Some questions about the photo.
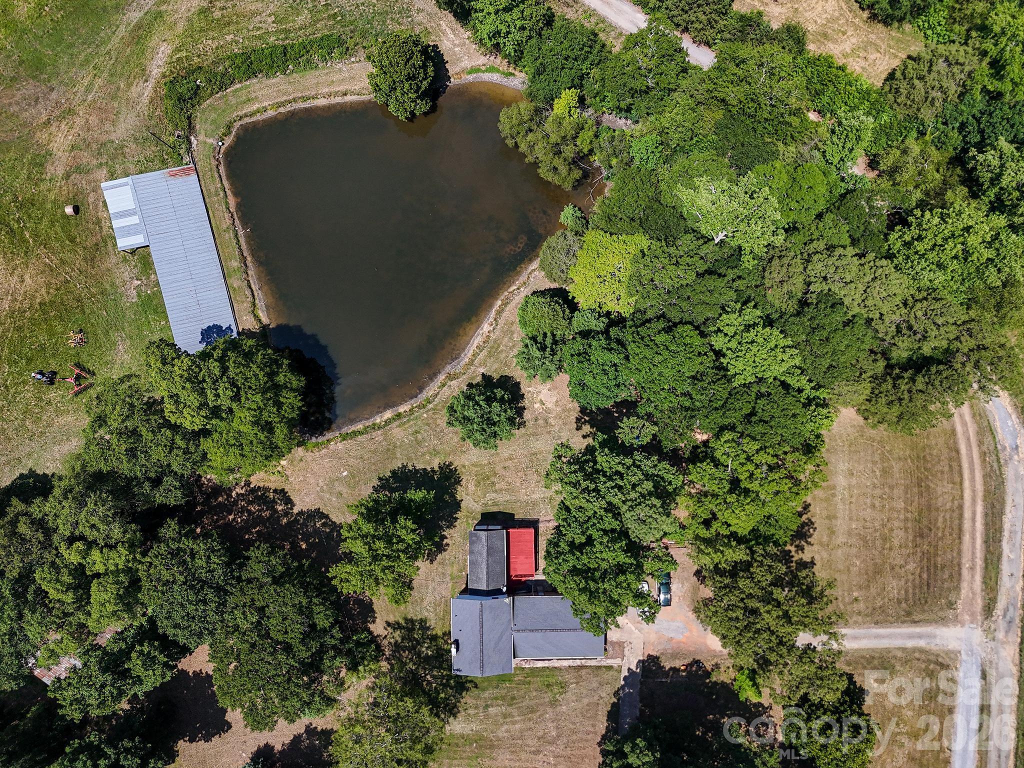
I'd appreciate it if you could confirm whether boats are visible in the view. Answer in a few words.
No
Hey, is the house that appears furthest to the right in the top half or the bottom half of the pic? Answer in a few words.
bottom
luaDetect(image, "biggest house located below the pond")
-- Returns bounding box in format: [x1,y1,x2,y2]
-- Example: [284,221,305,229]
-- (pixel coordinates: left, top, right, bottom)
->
[450,528,605,677]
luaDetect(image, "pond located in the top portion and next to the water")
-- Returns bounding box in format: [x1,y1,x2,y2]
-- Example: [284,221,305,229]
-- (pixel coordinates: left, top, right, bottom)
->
[225,85,606,440]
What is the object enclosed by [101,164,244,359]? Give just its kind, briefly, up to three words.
barn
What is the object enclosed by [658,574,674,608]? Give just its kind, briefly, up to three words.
car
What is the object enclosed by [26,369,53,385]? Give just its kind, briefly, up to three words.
work vehicle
